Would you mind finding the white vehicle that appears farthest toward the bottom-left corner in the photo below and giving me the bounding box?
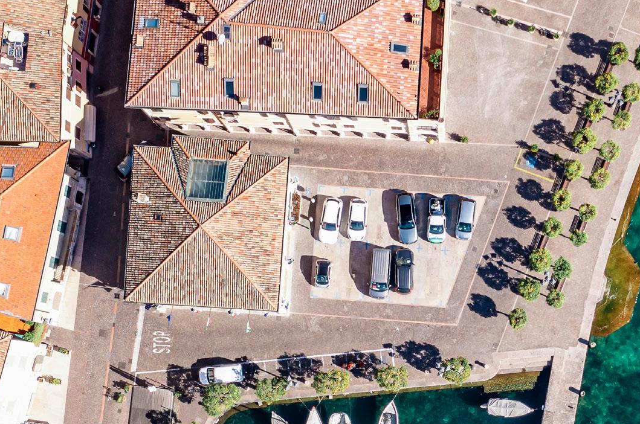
[200,363,246,386]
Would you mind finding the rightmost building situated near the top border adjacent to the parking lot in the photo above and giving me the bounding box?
[125,0,451,143]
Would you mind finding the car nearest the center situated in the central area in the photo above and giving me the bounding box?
[316,196,344,244]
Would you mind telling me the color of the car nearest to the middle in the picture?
white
